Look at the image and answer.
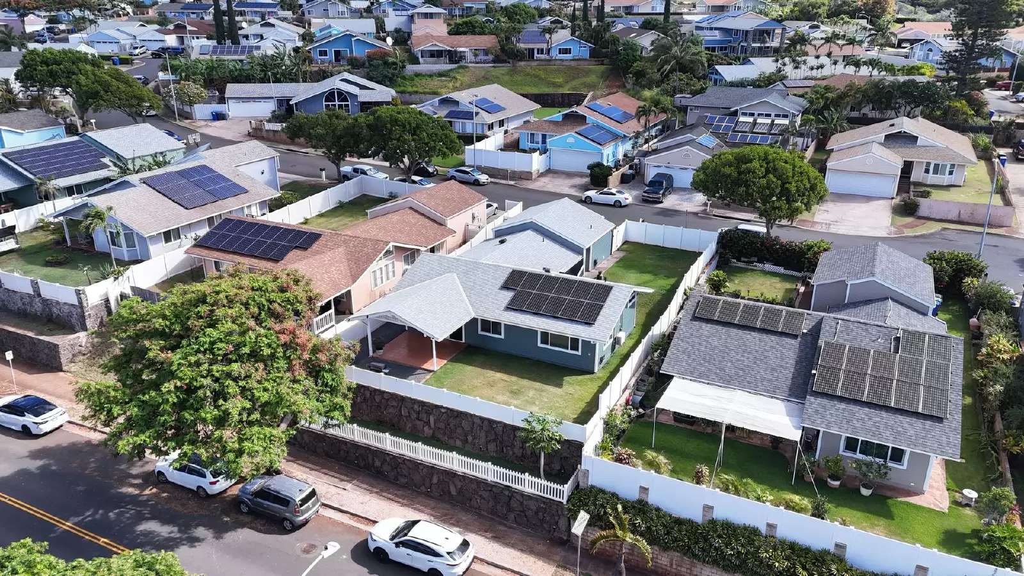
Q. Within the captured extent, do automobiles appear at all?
Yes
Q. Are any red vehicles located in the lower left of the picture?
No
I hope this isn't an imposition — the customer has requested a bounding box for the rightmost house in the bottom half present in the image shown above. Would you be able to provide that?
[658,240,965,498]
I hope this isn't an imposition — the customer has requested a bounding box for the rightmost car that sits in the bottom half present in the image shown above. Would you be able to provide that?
[365,515,477,576]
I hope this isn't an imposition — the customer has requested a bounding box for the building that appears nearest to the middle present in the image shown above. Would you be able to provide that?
[344,197,661,374]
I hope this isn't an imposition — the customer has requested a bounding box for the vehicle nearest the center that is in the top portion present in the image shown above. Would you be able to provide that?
[475,191,502,211]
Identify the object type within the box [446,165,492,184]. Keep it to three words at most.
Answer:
car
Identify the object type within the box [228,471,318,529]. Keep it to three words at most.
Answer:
car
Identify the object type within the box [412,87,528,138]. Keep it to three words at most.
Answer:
house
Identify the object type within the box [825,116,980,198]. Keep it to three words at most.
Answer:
house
